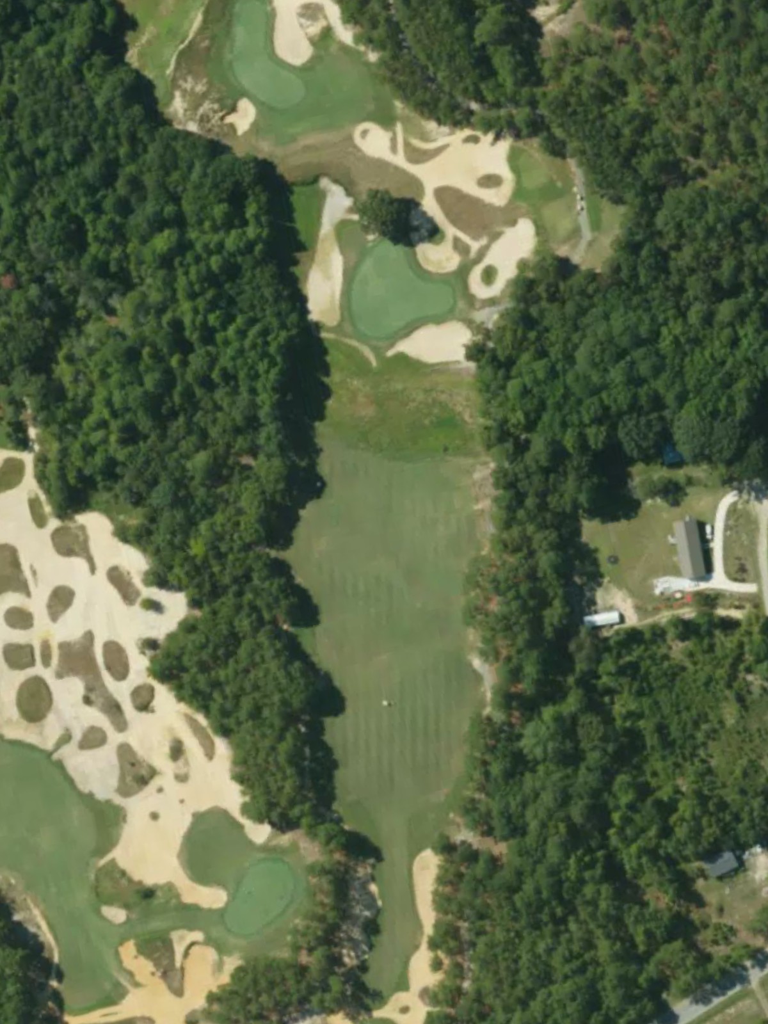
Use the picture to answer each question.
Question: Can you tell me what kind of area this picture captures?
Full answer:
It's a golf course.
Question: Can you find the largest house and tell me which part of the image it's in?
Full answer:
The largest house is located in the right region of the scene.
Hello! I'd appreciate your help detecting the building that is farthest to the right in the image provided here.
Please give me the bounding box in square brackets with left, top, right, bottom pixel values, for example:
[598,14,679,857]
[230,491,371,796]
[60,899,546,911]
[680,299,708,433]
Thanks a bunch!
[708,851,739,879]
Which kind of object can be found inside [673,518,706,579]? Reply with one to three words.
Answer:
house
